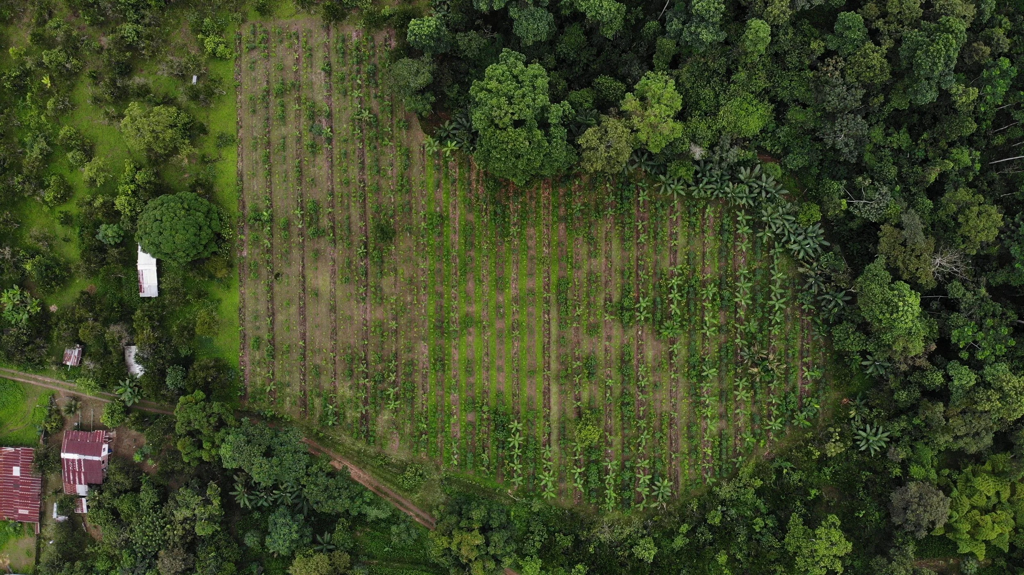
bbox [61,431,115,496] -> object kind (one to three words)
house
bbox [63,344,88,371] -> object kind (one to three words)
shed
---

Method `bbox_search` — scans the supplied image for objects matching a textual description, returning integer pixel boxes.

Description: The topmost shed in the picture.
[136,250,166,297]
